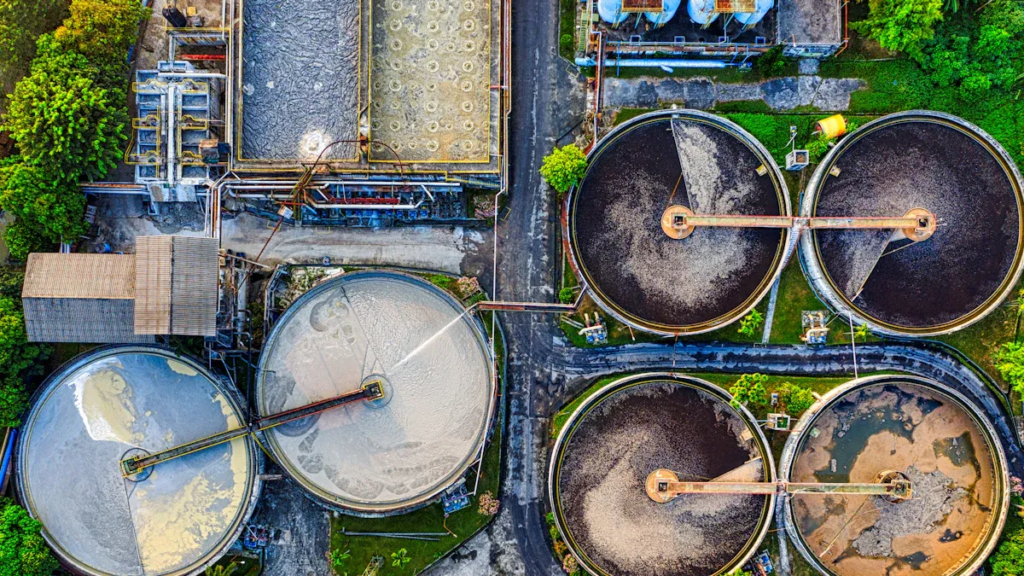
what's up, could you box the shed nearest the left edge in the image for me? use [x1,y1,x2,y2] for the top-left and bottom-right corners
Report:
[21,253,170,344]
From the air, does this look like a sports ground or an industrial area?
industrial area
